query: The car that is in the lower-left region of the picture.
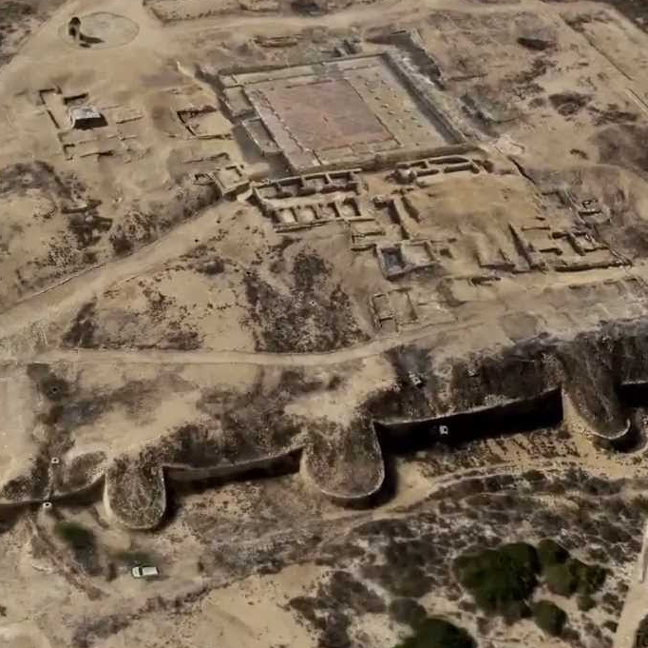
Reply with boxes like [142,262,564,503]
[133,568,158,581]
